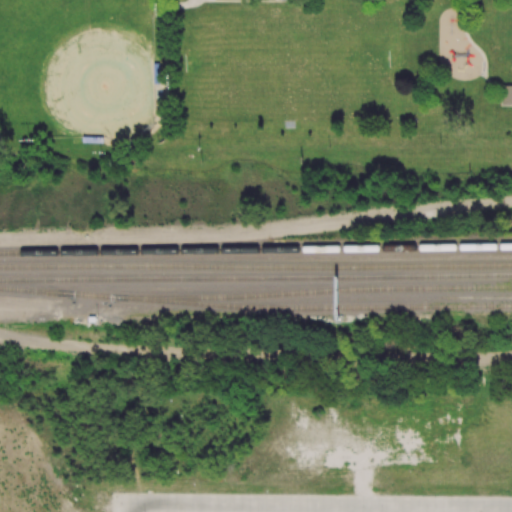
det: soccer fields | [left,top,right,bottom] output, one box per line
[184,7,392,118]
